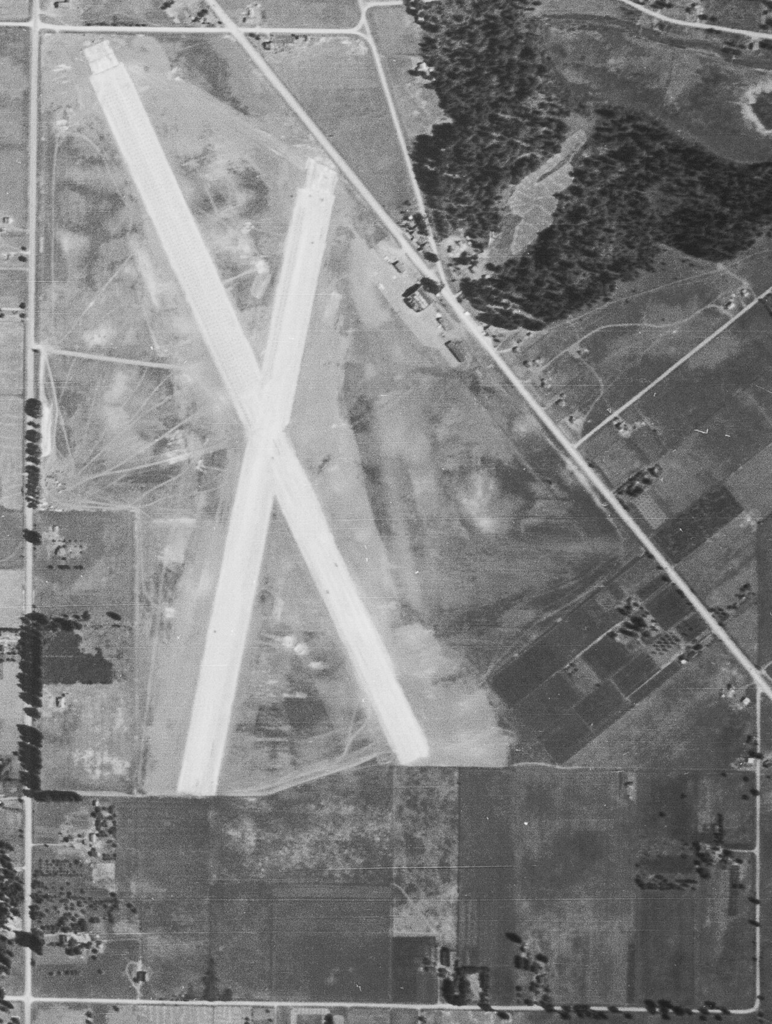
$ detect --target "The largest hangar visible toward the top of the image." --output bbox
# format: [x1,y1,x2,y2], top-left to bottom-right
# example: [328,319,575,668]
[406,284,434,312]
